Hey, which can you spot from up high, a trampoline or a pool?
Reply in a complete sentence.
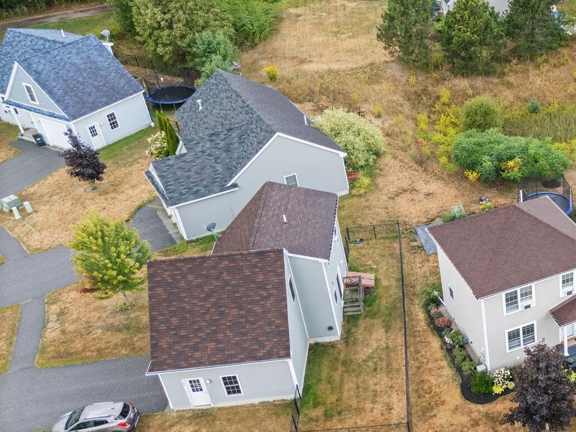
This aerial view contains a trampoline.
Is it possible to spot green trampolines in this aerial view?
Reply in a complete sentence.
No, there appears to be no green trampoline in this shot.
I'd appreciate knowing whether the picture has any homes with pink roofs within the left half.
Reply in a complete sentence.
No, no home with a pink roof is visible within the left half.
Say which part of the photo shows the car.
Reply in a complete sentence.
You can find the car in the bottom left area of the picture.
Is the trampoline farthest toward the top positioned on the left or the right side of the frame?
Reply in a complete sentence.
The trampoline farthest toward the top appears in the left half of the scene.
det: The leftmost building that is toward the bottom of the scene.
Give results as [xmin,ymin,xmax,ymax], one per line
[145,181,347,411]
